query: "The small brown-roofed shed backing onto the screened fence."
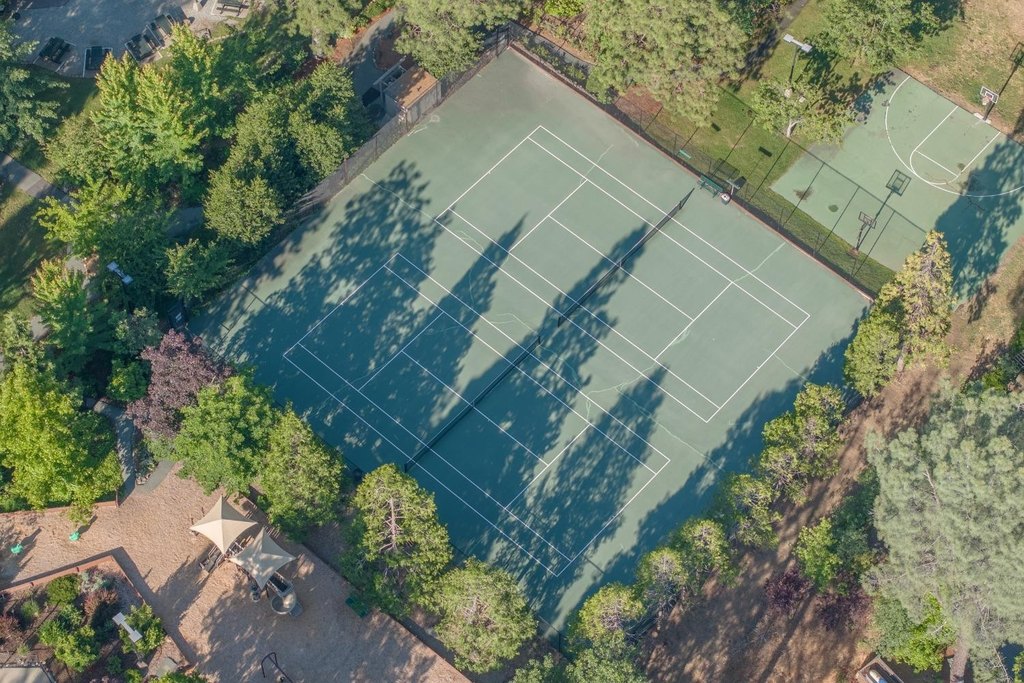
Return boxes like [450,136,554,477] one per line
[367,48,439,128]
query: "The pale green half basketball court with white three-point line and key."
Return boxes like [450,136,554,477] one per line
[773,76,1024,308]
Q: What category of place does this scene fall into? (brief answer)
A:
sports ground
